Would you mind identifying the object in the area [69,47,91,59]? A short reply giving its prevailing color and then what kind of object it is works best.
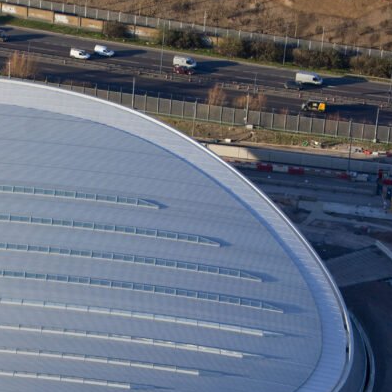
white vehicle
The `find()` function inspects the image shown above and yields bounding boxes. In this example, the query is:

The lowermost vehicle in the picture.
[301,99,328,114]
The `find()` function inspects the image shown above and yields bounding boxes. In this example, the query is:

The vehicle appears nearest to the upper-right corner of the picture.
[295,70,324,87]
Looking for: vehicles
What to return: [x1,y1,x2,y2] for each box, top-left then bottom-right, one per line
[94,44,116,57]
[172,56,198,71]
[283,82,304,92]
[173,67,194,77]
[295,70,324,87]
[301,99,328,114]
[69,47,91,59]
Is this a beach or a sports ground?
sports ground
